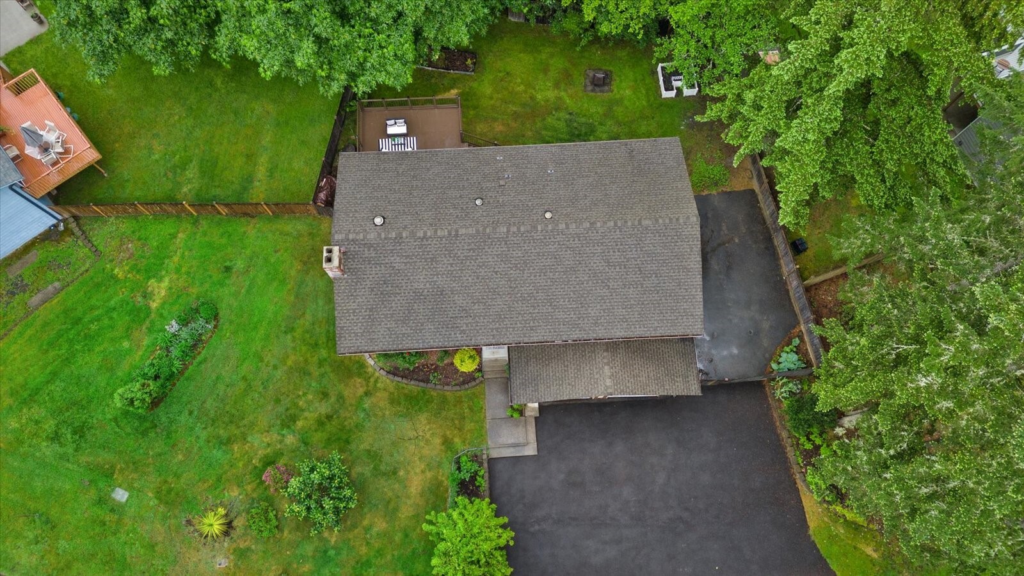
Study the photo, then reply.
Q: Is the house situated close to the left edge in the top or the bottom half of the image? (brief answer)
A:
top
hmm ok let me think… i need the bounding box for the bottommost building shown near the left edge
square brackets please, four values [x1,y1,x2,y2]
[0,141,62,259]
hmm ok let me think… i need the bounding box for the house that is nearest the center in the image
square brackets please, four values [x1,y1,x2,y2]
[323,137,705,405]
